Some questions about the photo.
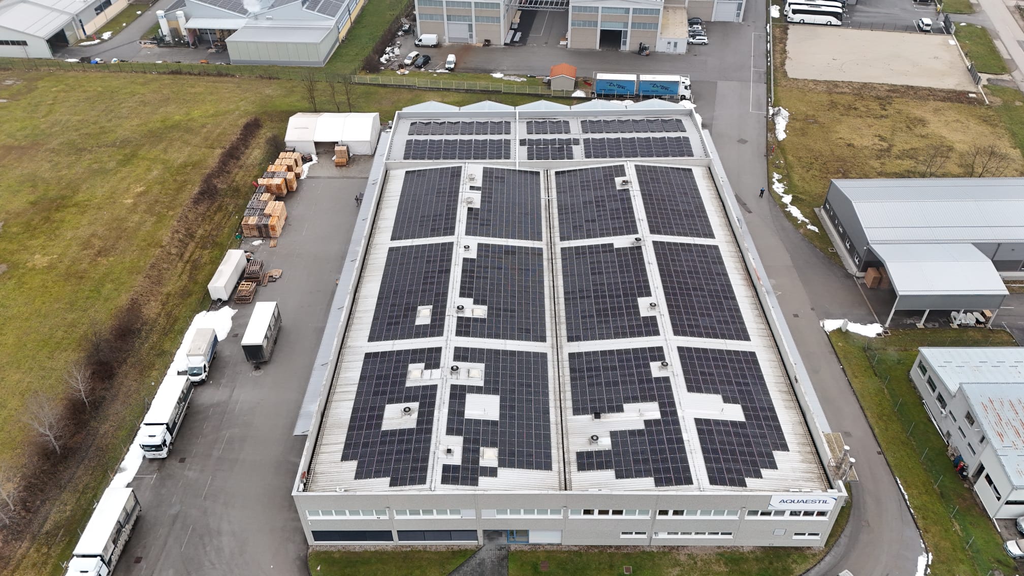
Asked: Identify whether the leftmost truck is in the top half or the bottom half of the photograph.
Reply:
bottom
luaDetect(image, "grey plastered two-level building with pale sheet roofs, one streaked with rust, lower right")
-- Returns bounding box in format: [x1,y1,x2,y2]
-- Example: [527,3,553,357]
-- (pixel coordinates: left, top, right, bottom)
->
[909,345,1024,528]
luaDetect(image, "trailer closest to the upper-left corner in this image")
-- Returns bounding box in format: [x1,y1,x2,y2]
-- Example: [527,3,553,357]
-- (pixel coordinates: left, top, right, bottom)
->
[207,248,248,312]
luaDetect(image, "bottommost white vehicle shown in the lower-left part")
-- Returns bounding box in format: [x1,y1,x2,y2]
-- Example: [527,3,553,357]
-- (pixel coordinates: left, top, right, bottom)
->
[70,488,142,576]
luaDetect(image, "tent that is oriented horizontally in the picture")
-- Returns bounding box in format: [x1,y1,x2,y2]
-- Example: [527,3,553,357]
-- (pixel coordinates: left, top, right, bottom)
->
[283,115,384,155]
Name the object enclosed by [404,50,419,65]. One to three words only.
car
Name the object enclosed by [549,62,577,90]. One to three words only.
shed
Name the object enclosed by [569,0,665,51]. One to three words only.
building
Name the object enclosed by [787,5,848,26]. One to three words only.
bus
